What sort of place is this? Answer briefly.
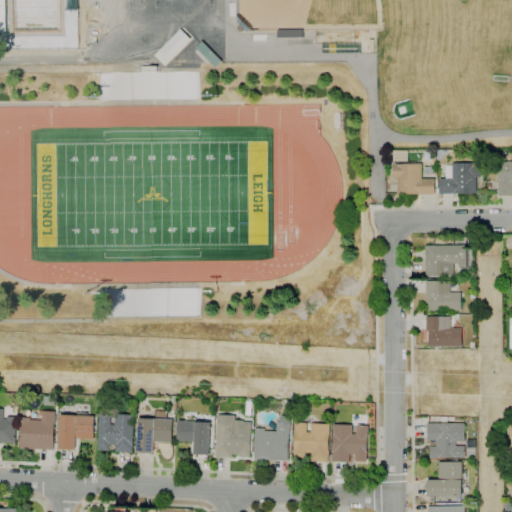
sports ground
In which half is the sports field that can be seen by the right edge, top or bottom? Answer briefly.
top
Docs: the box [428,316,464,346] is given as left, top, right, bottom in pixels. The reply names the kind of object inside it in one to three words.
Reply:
house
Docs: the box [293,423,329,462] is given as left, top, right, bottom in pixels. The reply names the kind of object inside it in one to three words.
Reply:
house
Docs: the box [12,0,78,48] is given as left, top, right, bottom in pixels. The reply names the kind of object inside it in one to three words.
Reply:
building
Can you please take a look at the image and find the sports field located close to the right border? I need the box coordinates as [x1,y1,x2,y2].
[380,0,512,132]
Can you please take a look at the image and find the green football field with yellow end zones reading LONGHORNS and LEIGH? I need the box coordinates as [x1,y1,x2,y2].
[32,126,273,261]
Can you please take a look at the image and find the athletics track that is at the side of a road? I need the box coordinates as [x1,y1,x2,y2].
[0,103,344,284]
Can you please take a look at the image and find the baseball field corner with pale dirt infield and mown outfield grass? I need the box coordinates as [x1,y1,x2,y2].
[239,0,376,28]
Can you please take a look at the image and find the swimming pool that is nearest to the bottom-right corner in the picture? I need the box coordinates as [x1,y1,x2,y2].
[257,411,278,426]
